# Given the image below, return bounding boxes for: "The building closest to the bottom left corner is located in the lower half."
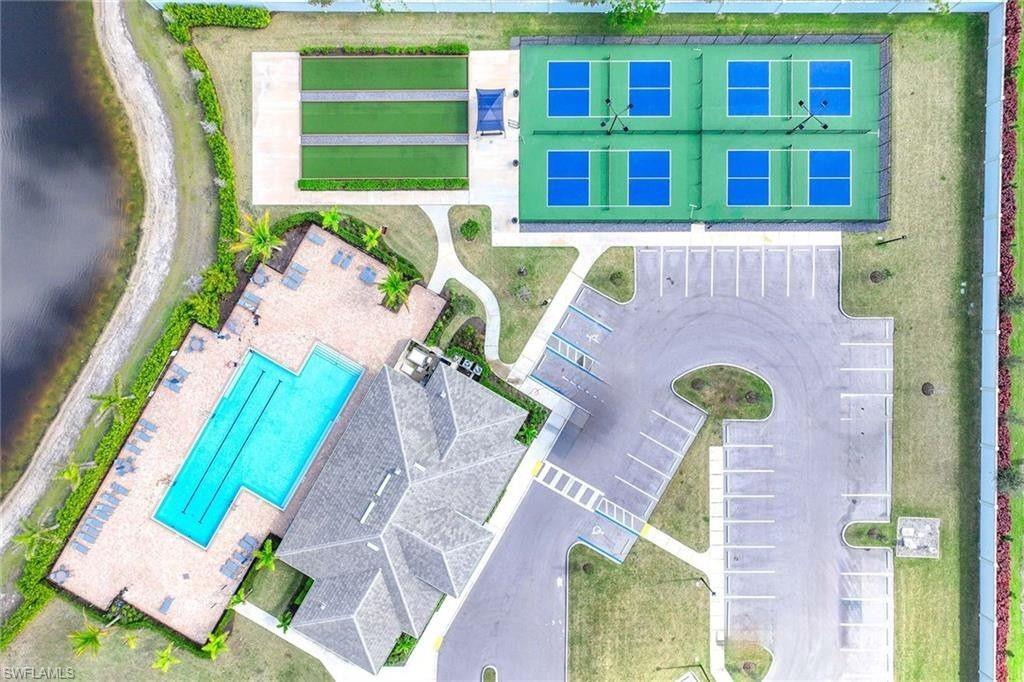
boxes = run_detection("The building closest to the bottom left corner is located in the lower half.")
[276,362,529,675]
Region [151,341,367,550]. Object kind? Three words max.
swimming pool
